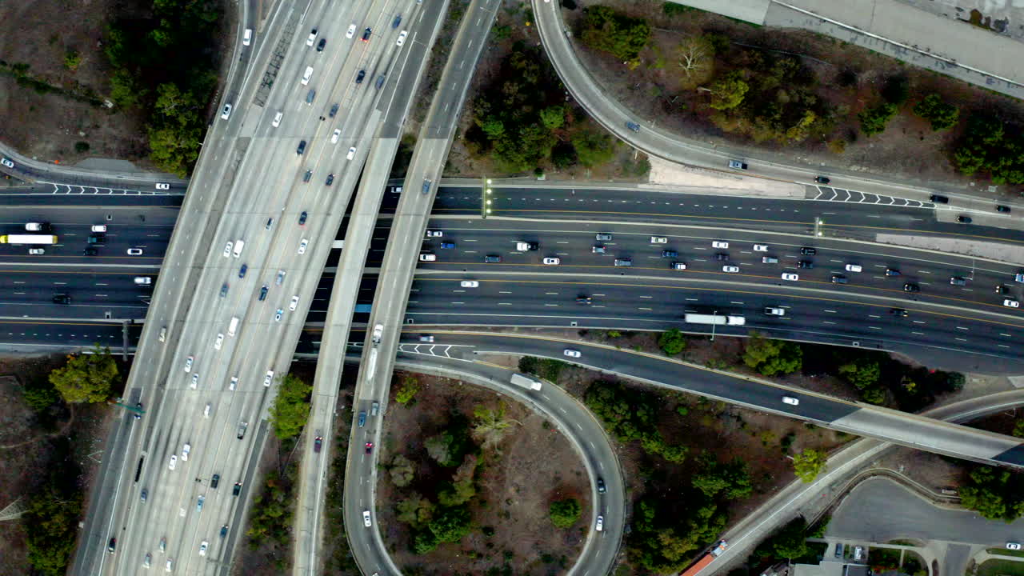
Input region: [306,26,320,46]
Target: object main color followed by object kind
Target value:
white vehicle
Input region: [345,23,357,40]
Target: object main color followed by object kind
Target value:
white vehicle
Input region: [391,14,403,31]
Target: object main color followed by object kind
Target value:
blue vehicle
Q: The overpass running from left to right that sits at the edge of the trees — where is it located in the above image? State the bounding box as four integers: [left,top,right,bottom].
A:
[846,399,998,460]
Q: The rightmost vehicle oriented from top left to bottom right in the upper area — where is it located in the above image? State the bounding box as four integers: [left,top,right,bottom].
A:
[623,119,642,134]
